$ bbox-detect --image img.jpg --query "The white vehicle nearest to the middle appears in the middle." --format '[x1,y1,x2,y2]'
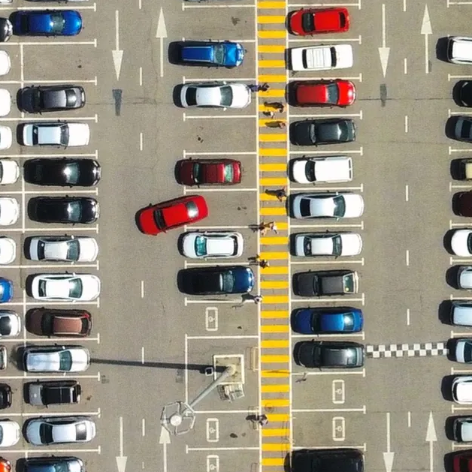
[183,229,245,262]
